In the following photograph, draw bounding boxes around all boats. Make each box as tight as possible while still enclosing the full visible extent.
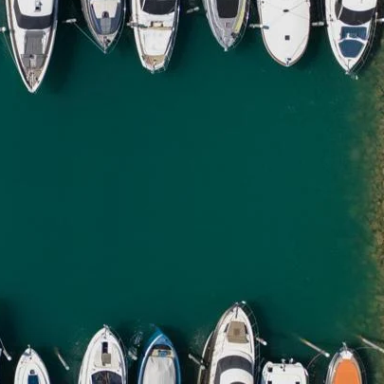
[134,326,178,384]
[197,334,213,384]
[315,0,379,77]
[320,344,365,384]
[206,301,262,384]
[4,0,59,96]
[78,322,128,384]
[249,0,308,70]
[13,344,47,384]
[260,359,309,384]
[78,0,124,56]
[198,0,249,53]
[127,0,181,75]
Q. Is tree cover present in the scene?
No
